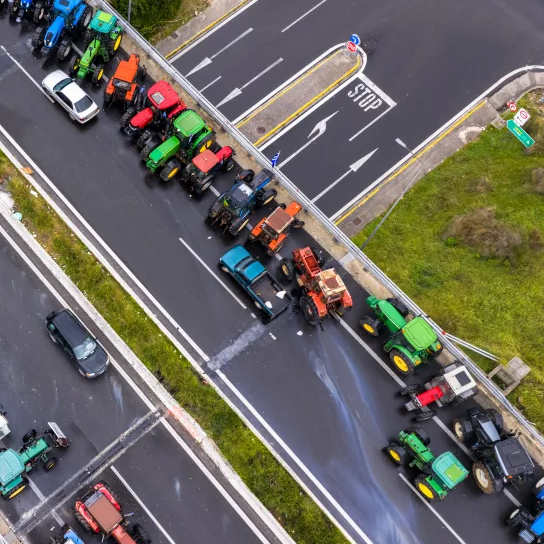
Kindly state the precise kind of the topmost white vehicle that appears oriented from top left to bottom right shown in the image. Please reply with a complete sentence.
It looks like the topmost white vehicle that appears oriented from top left to bottom right is an automobile.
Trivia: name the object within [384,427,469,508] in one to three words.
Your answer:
work vehicle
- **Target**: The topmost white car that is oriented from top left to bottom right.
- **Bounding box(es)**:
[40,70,104,126]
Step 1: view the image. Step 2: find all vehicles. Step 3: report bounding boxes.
[447,404,538,496]
[247,202,307,258]
[282,247,357,323]
[177,147,237,200]
[355,294,441,375]
[0,424,74,504]
[43,306,109,380]
[40,70,104,126]
[384,427,469,508]
[138,108,214,181]
[501,475,544,544]
[121,79,187,144]
[10,0,47,21]
[401,363,477,424]
[69,11,124,90]
[72,484,151,544]
[206,163,284,236]
[33,0,94,63]
[101,54,145,116]
[214,247,294,322]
